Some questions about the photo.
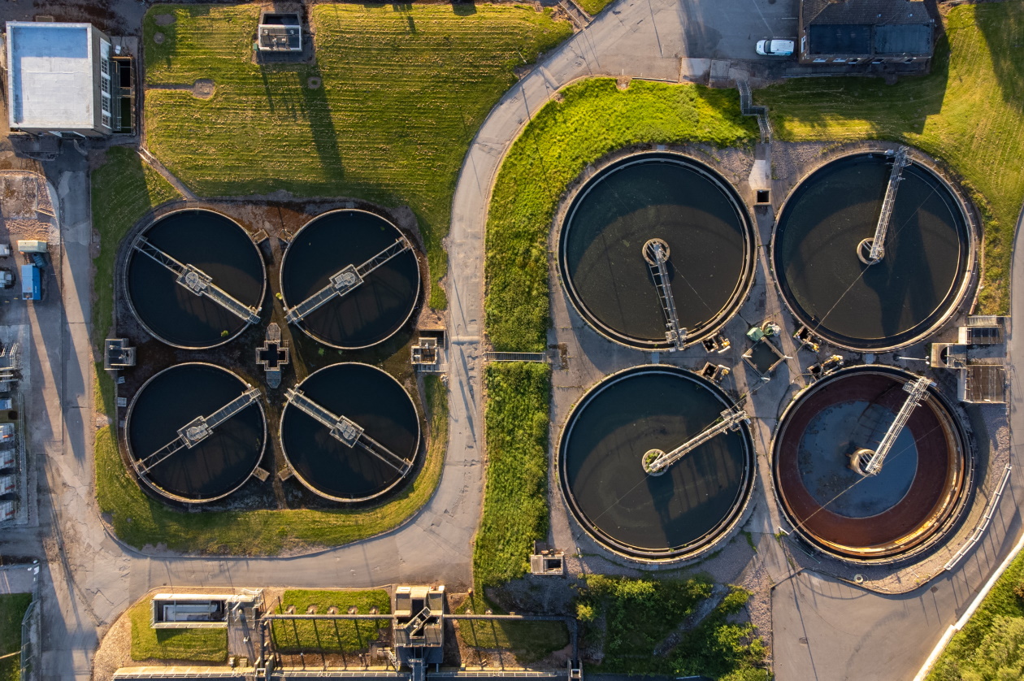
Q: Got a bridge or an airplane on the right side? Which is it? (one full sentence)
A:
Visible on the right side is a bridge.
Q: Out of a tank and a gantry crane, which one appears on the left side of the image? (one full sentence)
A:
The feature located on the left side of the image is a tank.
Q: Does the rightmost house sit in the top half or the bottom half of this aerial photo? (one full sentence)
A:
The top half of the photo is where the rightmost house is.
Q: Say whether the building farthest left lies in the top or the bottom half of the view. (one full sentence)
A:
The top half of the photo is where the building farthest left is.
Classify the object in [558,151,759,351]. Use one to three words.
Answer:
storage tank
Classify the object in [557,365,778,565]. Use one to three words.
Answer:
storage tank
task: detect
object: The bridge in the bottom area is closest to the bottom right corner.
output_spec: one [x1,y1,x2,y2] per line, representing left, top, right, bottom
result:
[862,375,939,480]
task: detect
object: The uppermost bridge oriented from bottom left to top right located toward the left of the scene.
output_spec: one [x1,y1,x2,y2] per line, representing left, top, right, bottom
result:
[281,233,411,328]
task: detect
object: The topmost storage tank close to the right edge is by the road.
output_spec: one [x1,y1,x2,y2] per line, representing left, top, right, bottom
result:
[772,144,977,352]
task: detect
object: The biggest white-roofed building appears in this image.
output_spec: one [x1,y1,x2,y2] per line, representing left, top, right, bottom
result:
[7,22,113,145]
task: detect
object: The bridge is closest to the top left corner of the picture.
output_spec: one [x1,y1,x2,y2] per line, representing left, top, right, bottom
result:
[128,236,265,324]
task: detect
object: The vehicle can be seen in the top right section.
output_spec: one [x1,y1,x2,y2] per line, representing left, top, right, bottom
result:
[754,38,797,59]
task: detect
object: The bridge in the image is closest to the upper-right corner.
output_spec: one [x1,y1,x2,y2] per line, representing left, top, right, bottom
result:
[867,144,918,262]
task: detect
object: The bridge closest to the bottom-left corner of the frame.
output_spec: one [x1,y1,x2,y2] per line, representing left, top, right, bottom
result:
[128,387,266,475]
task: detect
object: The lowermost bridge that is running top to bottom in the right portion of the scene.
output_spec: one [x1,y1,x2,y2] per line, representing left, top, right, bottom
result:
[648,239,686,351]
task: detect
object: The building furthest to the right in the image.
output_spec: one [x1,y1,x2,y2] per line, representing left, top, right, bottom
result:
[800,0,933,64]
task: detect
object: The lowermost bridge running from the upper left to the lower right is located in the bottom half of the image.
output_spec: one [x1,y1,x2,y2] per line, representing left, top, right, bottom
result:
[281,386,412,477]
